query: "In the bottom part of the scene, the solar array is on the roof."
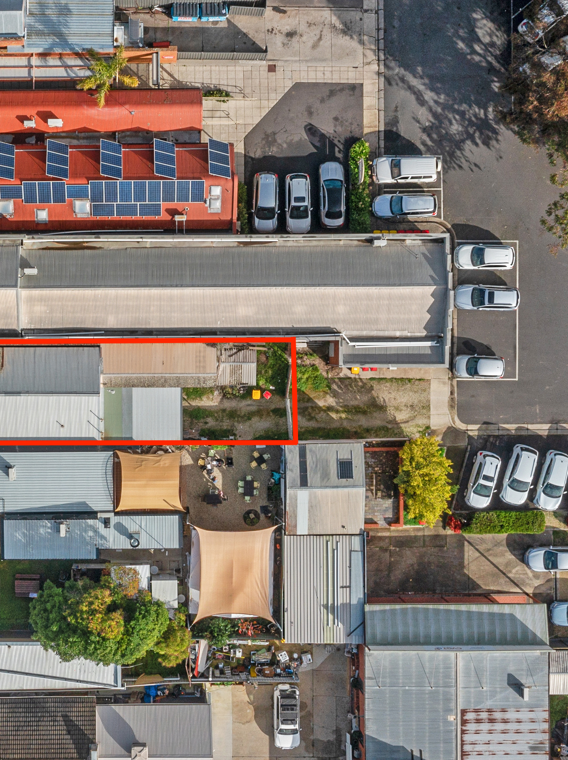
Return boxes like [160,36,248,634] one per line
[340,460,355,478]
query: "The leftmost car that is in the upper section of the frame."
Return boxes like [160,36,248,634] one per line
[255,170,285,234]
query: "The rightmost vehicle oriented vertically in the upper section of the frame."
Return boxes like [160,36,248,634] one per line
[320,163,351,228]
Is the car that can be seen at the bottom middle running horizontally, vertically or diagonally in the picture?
vertically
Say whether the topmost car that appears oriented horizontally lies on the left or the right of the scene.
right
